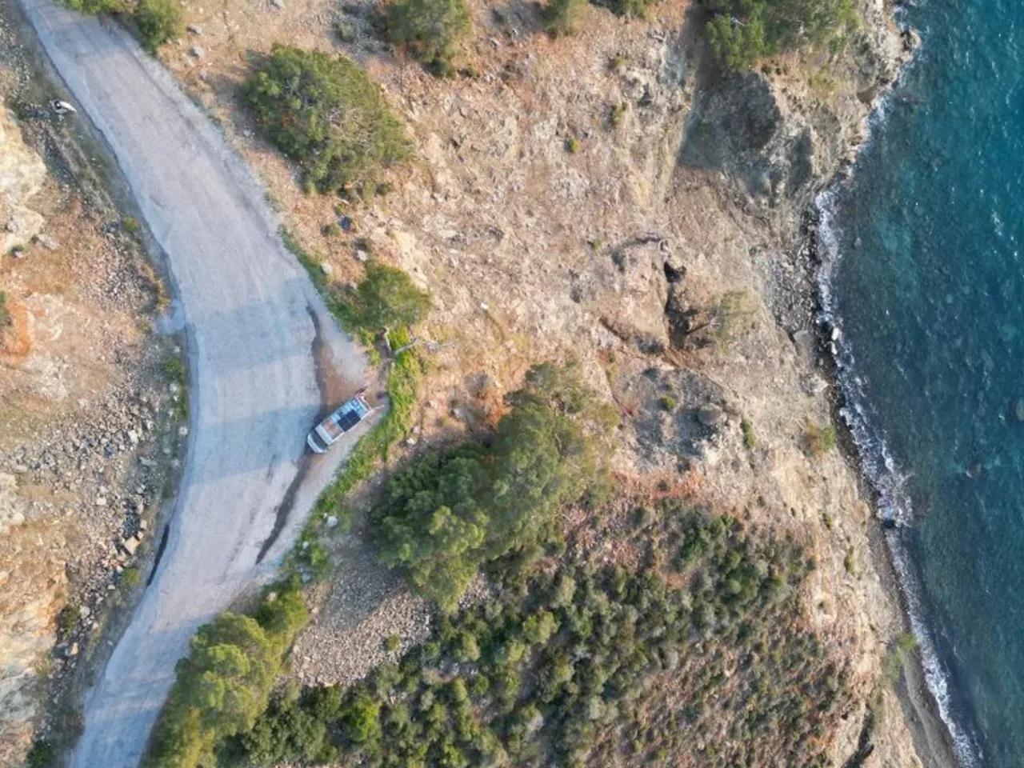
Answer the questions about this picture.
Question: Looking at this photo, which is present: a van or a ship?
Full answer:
It is a van that can be seen here.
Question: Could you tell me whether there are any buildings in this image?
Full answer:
No, I can see no building in this picture.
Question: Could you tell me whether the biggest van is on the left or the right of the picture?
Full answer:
The biggest van sits on the left side.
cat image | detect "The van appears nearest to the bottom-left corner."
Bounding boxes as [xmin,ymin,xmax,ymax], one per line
[312,387,386,452]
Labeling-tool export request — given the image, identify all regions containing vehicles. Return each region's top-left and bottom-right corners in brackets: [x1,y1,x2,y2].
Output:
[312,387,386,452]
[48,95,72,113]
